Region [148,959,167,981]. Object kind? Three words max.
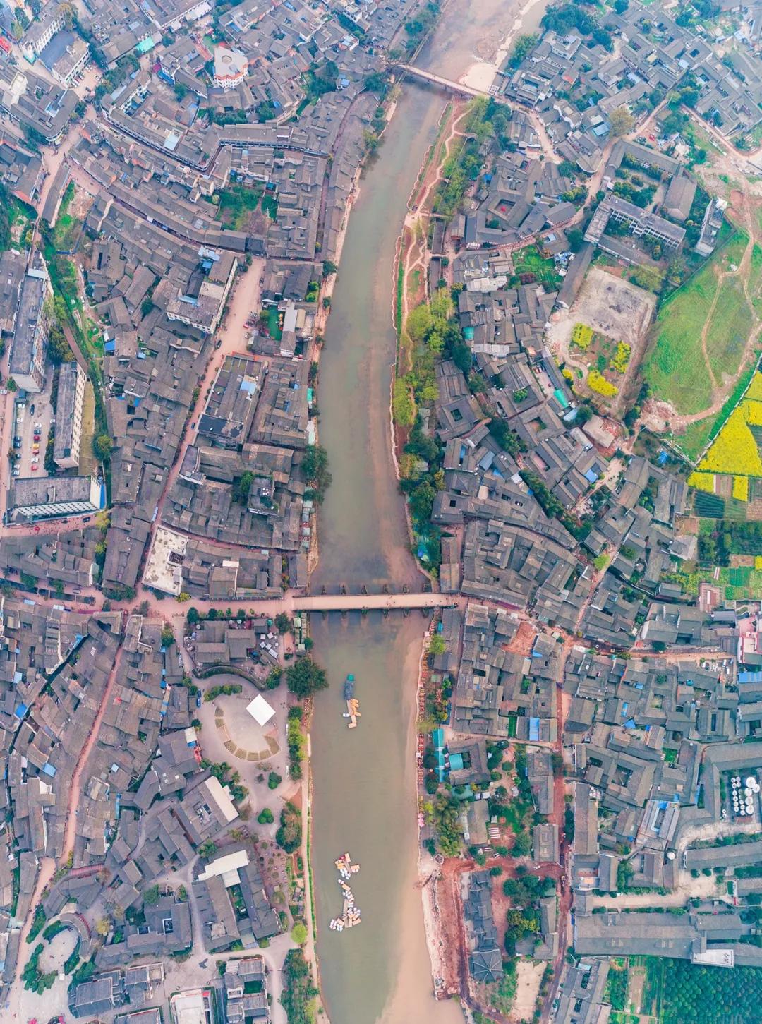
building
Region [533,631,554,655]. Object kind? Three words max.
house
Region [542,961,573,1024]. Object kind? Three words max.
house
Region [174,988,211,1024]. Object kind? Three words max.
building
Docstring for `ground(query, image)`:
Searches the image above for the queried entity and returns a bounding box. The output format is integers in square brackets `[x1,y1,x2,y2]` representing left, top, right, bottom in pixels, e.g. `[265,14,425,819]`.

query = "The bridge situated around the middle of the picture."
[290,585,464,621]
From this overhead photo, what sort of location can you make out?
residential area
